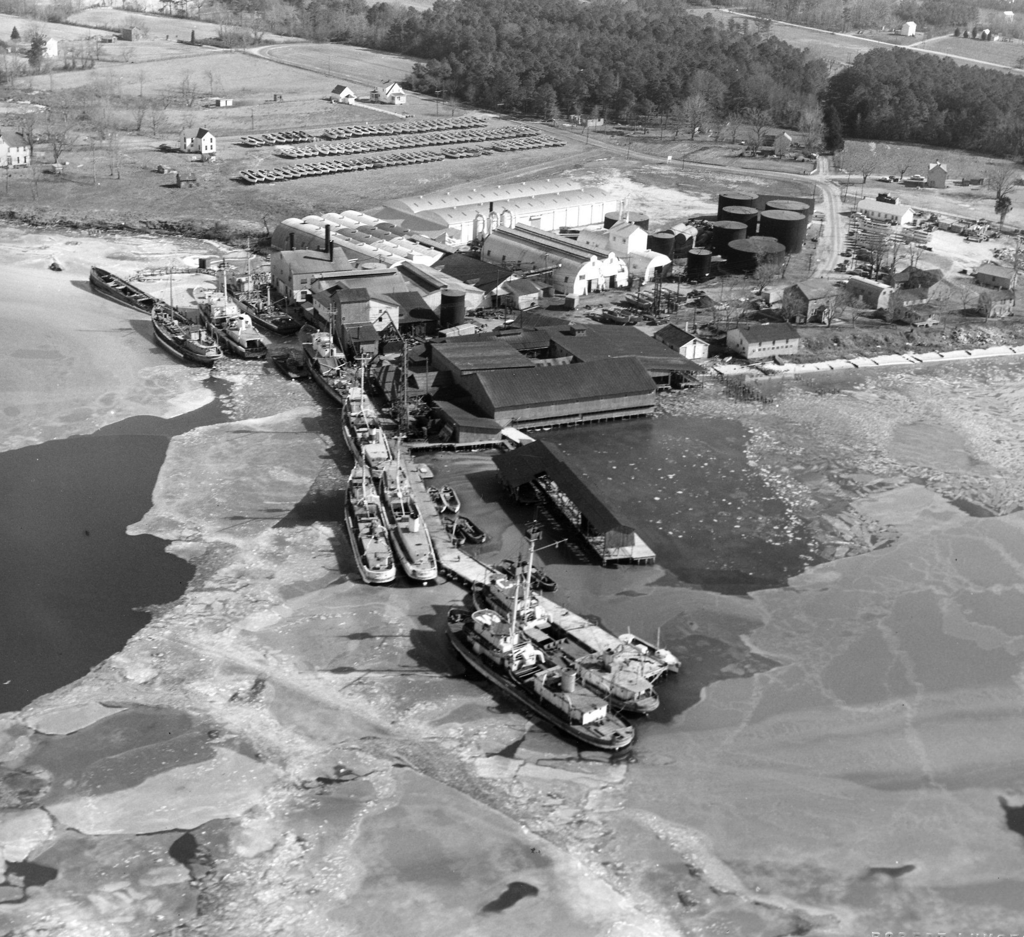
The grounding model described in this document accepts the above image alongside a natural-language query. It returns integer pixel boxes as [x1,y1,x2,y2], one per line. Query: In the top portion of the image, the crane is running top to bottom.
[366,312,440,435]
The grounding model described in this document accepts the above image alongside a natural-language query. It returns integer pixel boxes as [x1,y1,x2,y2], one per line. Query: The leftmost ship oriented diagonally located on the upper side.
[90,266,170,322]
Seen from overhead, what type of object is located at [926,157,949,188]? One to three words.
house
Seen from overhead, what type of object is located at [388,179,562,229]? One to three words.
building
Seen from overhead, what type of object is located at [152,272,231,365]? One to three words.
ship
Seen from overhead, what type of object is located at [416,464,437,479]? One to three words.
boat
